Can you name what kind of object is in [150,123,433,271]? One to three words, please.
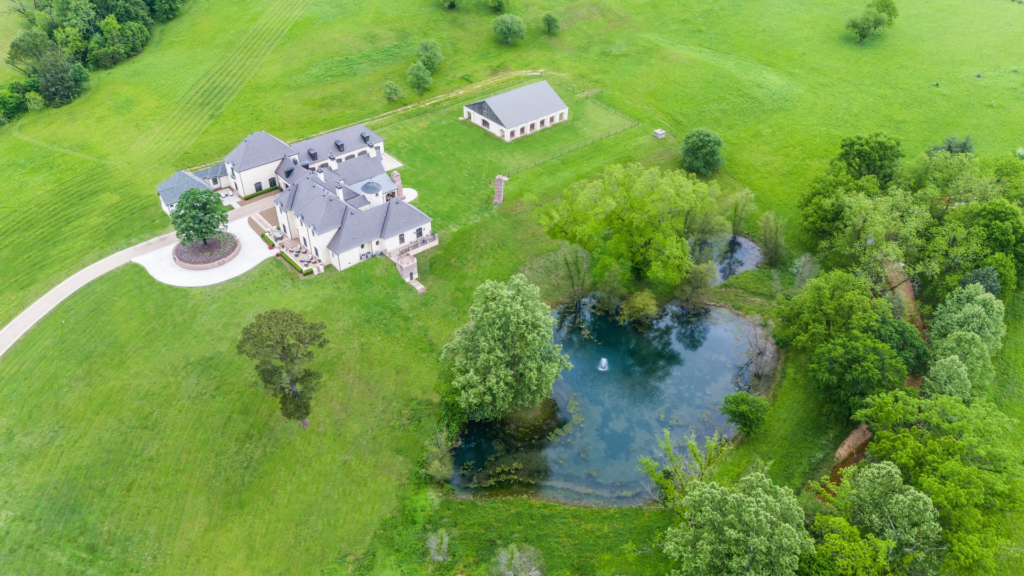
house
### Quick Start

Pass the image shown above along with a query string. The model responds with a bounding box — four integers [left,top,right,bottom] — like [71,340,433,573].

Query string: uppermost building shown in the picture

[463,80,570,141]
